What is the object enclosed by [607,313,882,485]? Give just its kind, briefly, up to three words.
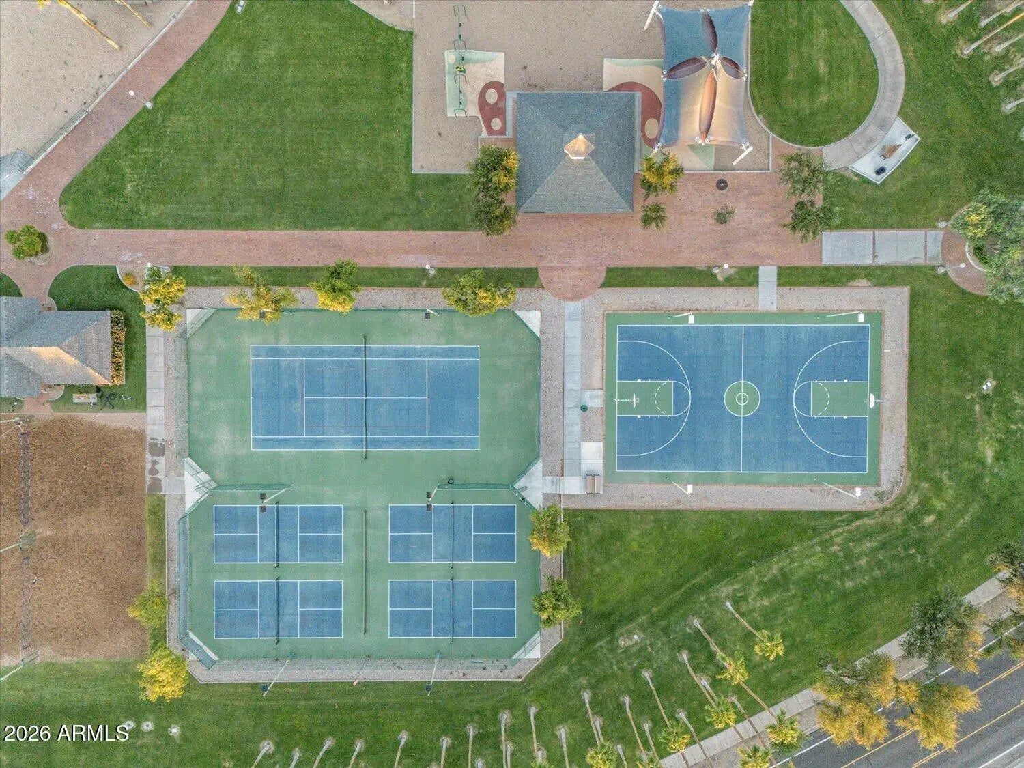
basketball court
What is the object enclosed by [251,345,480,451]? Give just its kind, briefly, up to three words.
tennis court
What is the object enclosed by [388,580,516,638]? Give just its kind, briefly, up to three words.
sports court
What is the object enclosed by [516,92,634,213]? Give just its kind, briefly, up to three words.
building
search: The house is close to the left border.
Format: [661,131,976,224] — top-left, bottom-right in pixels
[0,295,121,398]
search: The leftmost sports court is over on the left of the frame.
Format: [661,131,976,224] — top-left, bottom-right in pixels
[0,416,148,666]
